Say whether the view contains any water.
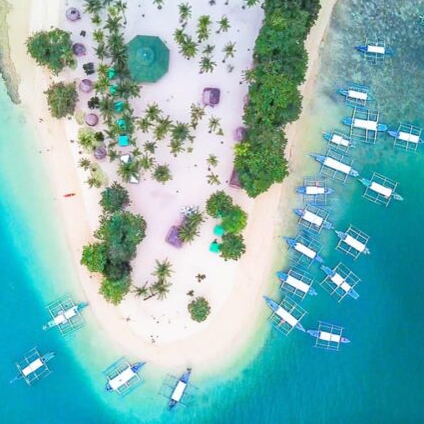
Yes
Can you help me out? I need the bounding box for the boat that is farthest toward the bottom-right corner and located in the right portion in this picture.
[308,320,351,351]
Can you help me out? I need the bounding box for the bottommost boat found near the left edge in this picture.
[9,346,55,385]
